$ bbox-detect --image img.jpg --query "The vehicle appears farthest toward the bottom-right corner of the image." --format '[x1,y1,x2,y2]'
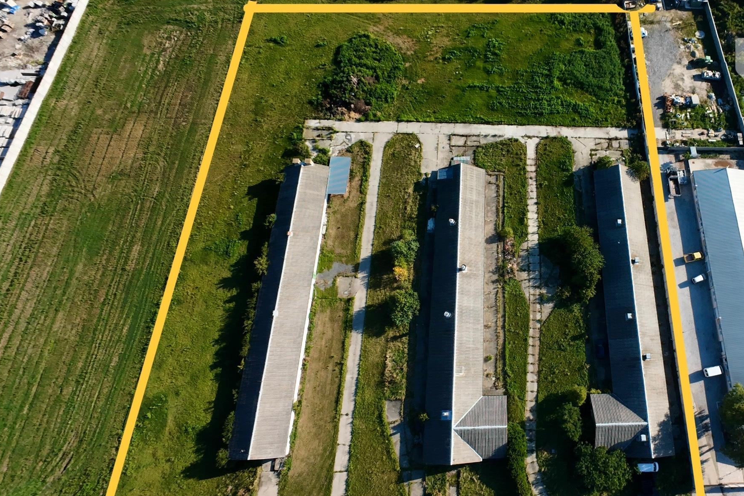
[635,461,660,474]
